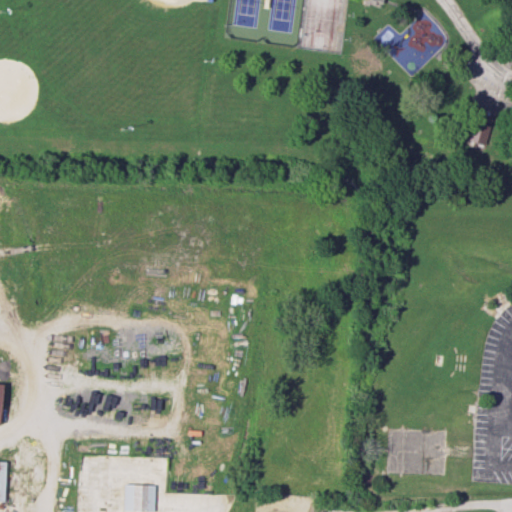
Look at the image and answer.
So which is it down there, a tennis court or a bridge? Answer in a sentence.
I can see a tennis court in this picture.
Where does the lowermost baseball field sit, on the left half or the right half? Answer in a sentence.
It is on the left.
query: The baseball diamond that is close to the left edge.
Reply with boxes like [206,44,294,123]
[0,57,40,125]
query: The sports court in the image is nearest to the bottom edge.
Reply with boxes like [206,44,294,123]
[387,428,446,476]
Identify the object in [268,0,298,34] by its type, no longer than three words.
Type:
tennis court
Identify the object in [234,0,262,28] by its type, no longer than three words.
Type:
tennis court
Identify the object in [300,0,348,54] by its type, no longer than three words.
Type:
sports court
